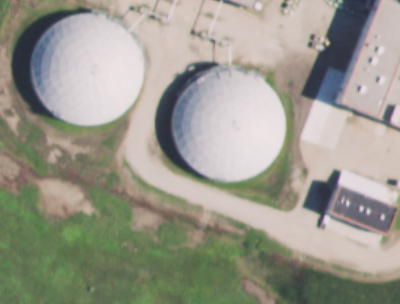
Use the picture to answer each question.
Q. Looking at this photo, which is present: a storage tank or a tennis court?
storage tank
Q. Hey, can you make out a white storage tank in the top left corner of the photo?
Yes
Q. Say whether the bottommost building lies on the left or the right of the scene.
right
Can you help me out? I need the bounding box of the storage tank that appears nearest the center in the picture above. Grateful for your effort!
[171,64,284,182]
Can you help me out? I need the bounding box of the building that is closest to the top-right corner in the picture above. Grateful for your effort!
[334,0,400,131]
